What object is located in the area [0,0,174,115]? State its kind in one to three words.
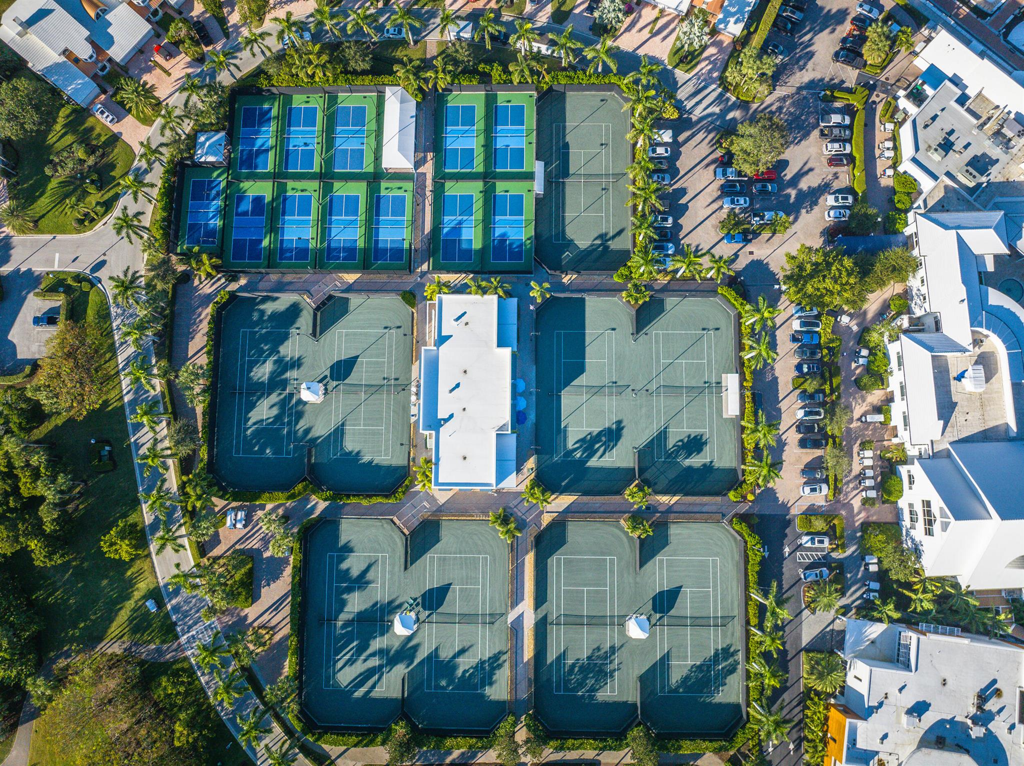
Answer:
house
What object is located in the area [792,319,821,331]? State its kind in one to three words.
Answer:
vehicle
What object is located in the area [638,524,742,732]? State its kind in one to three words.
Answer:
tennis court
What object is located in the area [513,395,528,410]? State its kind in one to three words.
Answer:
umbrella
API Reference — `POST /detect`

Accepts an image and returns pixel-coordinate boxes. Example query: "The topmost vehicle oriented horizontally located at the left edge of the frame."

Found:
[31,315,63,327]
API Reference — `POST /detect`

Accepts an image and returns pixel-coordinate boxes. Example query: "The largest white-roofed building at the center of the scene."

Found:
[418,294,518,489]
